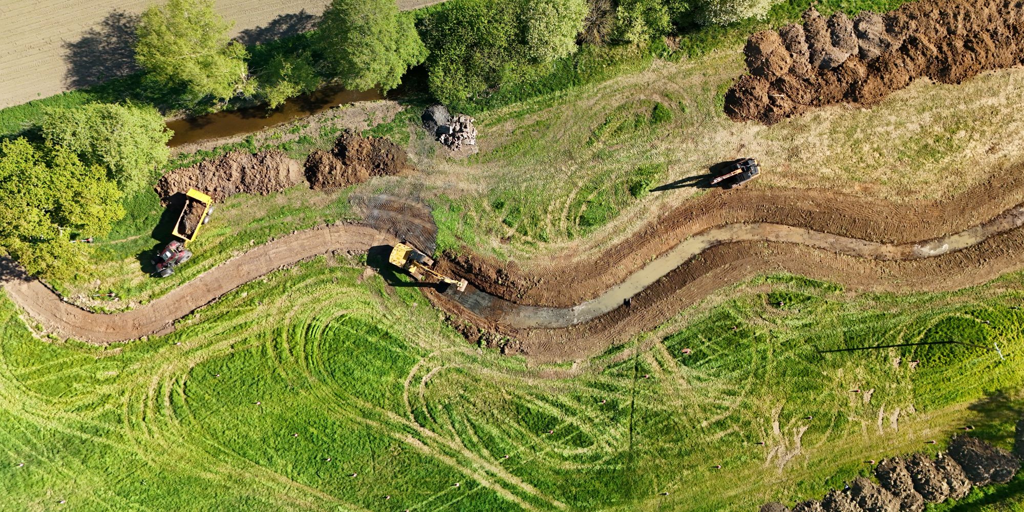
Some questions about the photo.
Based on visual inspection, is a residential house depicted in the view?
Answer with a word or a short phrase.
No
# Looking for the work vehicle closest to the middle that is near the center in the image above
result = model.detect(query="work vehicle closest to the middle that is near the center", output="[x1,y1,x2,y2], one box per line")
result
[388,238,468,293]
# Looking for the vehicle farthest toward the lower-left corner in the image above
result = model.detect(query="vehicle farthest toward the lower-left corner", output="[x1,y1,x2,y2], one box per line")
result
[146,236,191,279]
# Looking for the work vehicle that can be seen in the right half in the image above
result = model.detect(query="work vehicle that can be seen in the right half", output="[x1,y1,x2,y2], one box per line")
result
[710,153,770,190]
